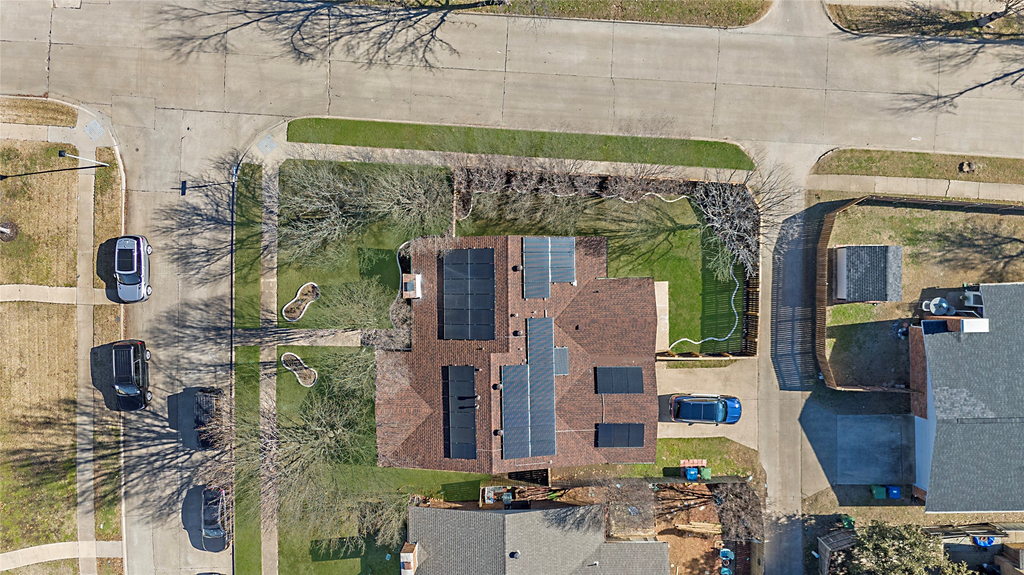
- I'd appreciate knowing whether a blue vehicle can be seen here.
Yes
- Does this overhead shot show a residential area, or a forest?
residential area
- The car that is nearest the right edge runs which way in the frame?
from left to right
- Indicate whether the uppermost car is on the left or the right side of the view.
left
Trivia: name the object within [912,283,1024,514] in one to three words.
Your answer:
house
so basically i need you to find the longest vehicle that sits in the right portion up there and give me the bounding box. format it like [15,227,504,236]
[669,393,741,427]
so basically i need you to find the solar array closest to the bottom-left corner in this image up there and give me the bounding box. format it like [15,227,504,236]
[448,366,476,459]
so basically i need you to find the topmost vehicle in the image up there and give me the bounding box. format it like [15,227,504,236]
[110,235,150,301]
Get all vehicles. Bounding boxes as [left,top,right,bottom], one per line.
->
[195,387,232,453]
[669,393,741,427]
[110,235,150,301]
[197,485,233,552]
[110,341,152,413]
